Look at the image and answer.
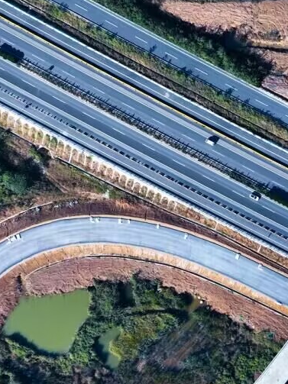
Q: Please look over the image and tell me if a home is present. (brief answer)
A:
No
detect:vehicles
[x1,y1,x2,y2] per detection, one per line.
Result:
[250,192,260,200]
[205,138,215,146]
